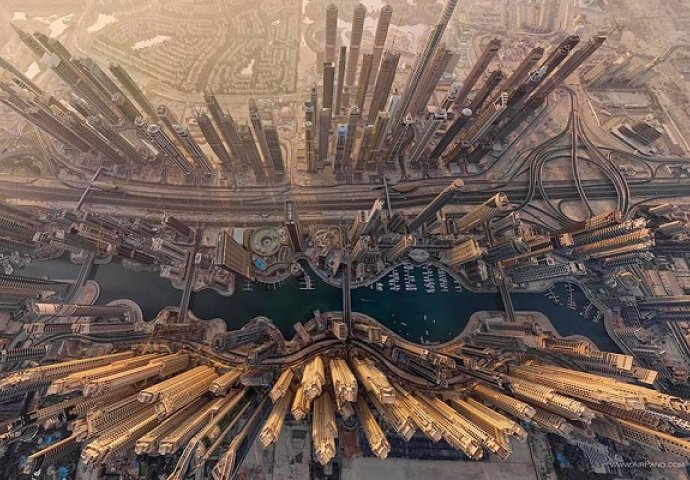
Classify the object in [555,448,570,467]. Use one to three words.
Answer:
swimming pool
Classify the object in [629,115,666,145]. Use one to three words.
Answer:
building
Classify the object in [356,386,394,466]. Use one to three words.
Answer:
building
